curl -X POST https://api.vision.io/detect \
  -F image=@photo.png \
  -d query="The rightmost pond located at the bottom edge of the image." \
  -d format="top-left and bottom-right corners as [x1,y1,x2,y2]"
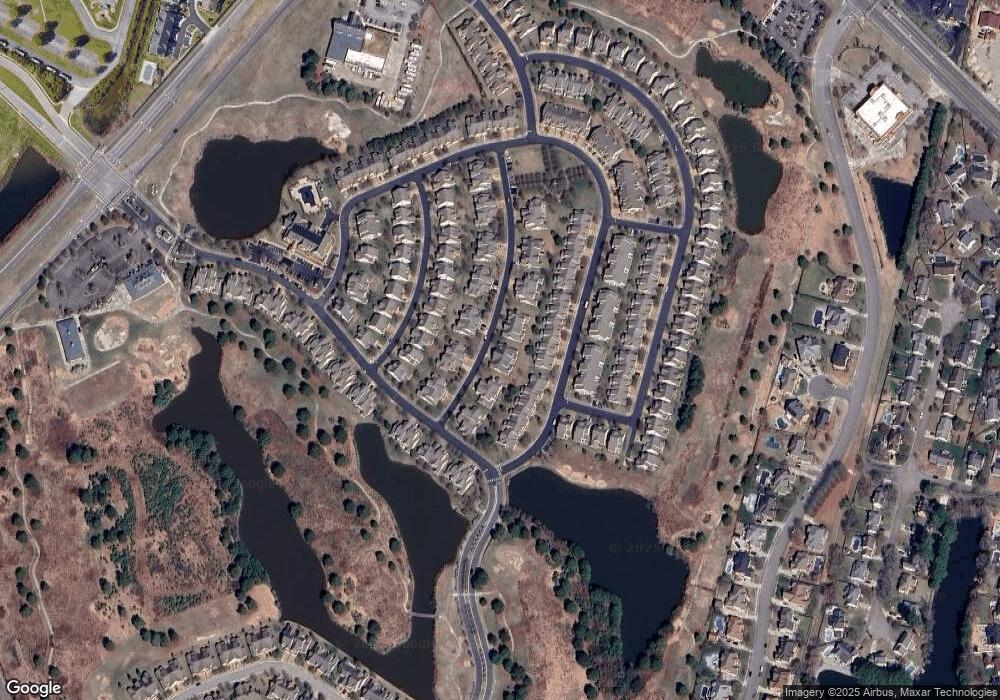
[913,516,984,700]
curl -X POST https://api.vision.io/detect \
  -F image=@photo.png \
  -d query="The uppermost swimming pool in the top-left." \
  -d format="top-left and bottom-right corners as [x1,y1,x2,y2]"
[142,62,156,83]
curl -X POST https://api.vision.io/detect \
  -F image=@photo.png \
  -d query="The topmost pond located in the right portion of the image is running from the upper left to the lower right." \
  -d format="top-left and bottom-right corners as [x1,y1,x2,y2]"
[695,47,770,108]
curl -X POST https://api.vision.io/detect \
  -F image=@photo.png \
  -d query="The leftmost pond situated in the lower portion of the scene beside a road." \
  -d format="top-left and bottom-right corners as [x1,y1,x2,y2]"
[508,468,689,664]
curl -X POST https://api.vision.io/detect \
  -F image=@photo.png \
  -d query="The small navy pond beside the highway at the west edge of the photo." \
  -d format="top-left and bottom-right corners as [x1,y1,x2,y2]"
[0,149,60,243]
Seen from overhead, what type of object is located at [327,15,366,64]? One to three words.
building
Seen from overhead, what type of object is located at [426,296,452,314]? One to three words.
house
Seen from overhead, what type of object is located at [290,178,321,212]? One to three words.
swimming pool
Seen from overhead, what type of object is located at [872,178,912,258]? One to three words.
pond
